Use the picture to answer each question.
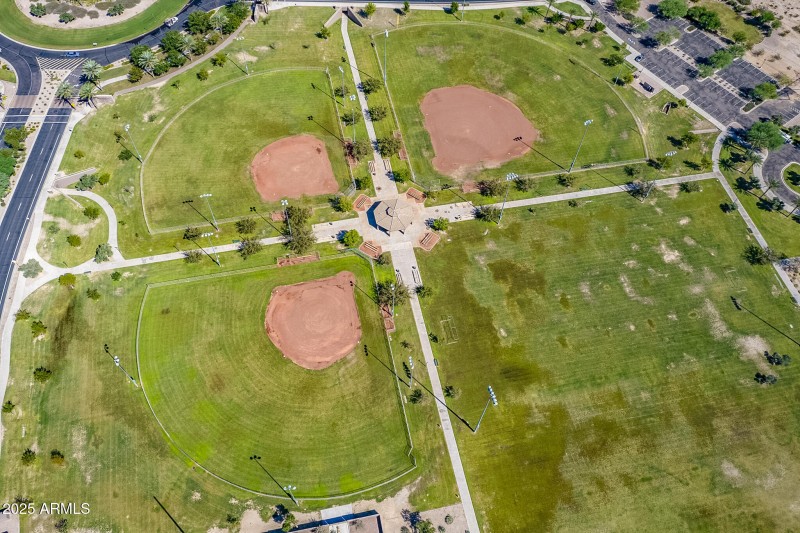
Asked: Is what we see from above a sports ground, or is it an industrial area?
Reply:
sports ground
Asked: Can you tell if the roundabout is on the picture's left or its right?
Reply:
left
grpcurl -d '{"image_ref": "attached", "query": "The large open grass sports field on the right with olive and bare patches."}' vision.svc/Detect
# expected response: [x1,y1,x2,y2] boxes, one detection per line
[414,180,800,533]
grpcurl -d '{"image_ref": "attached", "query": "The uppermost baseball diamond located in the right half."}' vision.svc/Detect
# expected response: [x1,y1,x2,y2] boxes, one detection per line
[370,21,648,191]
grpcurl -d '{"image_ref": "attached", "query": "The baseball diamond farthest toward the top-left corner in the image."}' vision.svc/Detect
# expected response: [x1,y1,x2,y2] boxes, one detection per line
[139,66,358,235]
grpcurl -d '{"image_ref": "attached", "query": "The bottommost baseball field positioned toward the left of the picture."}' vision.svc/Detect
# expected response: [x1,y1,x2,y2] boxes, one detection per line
[136,252,417,500]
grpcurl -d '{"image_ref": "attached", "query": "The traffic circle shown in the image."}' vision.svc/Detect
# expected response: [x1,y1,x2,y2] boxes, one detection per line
[0,0,219,70]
